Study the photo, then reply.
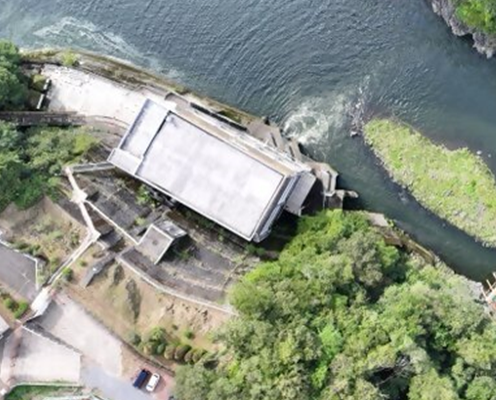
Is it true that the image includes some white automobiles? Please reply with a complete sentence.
Yes, the image includes a white automobile.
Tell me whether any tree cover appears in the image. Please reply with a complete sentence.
Yes, there's tree cover in this view.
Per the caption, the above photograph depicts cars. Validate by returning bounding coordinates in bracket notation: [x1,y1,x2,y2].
[145,372,161,393]
[133,367,150,389]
